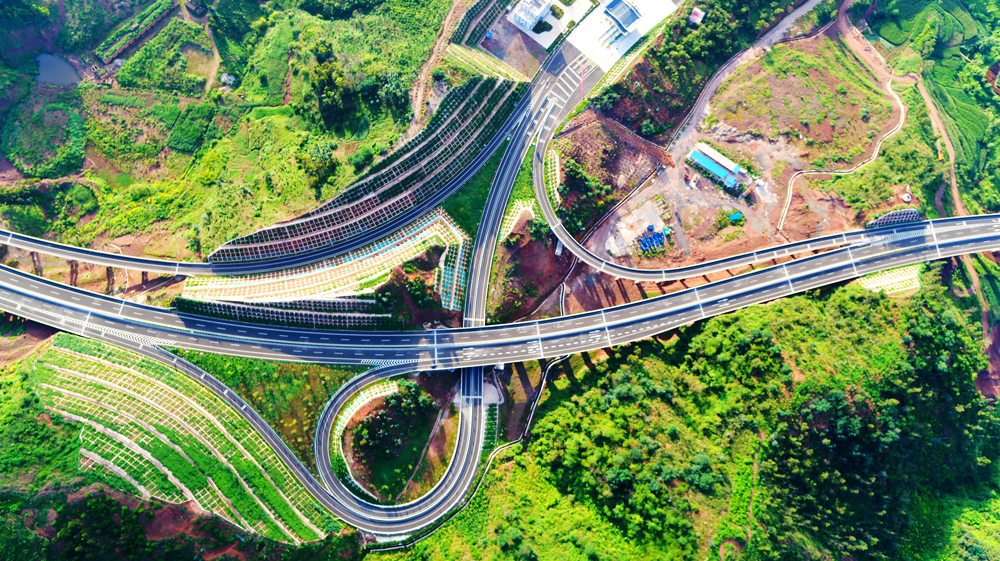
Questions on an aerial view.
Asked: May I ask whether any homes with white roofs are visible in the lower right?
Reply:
No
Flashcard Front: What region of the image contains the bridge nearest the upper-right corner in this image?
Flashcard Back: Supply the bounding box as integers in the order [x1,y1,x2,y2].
[930,213,1000,256]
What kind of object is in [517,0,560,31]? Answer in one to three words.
building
